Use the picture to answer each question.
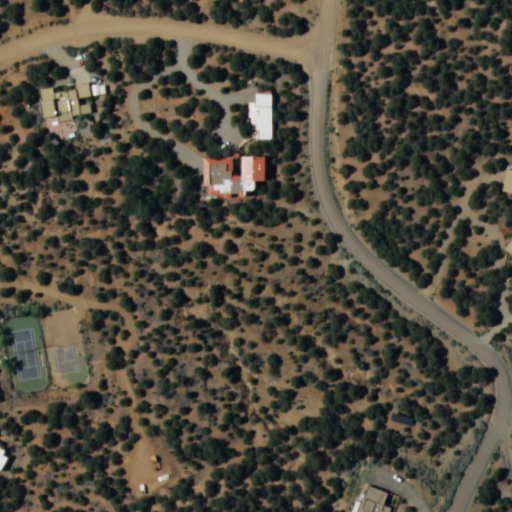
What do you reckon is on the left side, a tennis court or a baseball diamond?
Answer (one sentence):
The feature located on the left side is a tennis court.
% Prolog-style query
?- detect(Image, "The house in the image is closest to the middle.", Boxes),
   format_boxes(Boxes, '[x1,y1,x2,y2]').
[204,154,266,198]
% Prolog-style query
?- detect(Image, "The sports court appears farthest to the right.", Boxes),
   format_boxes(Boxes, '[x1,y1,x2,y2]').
[43,310,88,386]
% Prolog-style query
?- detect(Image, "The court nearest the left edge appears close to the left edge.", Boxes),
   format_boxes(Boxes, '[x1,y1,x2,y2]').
[5,318,50,392]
